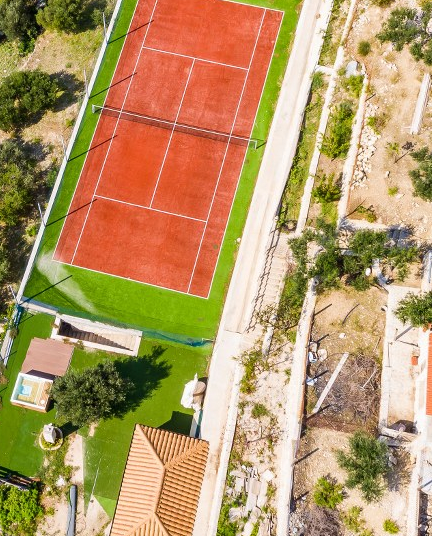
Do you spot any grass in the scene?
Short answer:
Yes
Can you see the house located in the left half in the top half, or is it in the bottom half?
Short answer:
bottom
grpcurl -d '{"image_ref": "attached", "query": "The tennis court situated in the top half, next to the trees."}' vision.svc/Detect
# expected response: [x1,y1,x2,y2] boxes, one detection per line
[26,0,300,347]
